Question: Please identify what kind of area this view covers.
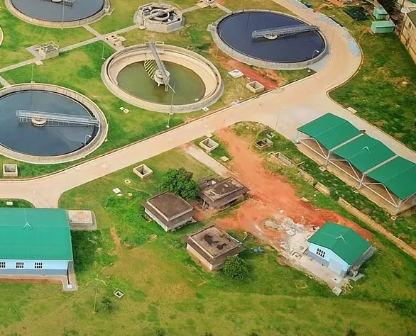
industrial area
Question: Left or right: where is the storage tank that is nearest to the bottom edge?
left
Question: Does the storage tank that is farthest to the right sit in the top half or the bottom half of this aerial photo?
top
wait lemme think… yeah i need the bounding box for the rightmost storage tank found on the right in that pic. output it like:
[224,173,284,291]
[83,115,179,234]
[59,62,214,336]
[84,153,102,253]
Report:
[202,3,327,67]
